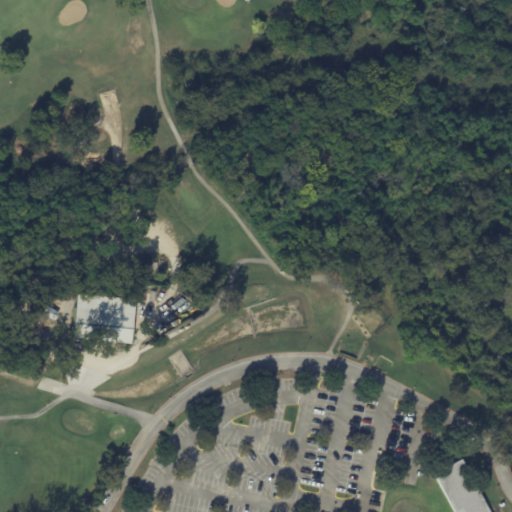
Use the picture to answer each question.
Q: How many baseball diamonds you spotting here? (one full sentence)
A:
The count of baseball diamonds is 0.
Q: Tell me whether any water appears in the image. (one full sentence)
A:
No, there is no water in the image.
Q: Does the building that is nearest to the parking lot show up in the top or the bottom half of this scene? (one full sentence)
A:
The building that is nearest to the parking lot sits in the bottom half of the picture.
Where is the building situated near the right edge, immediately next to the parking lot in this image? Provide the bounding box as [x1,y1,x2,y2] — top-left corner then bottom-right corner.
[432,456,492,512]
